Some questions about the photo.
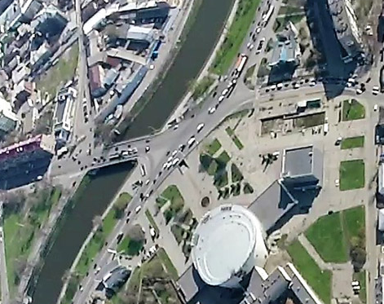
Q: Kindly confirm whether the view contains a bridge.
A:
Yes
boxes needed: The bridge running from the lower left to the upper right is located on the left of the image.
[80,130,159,181]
